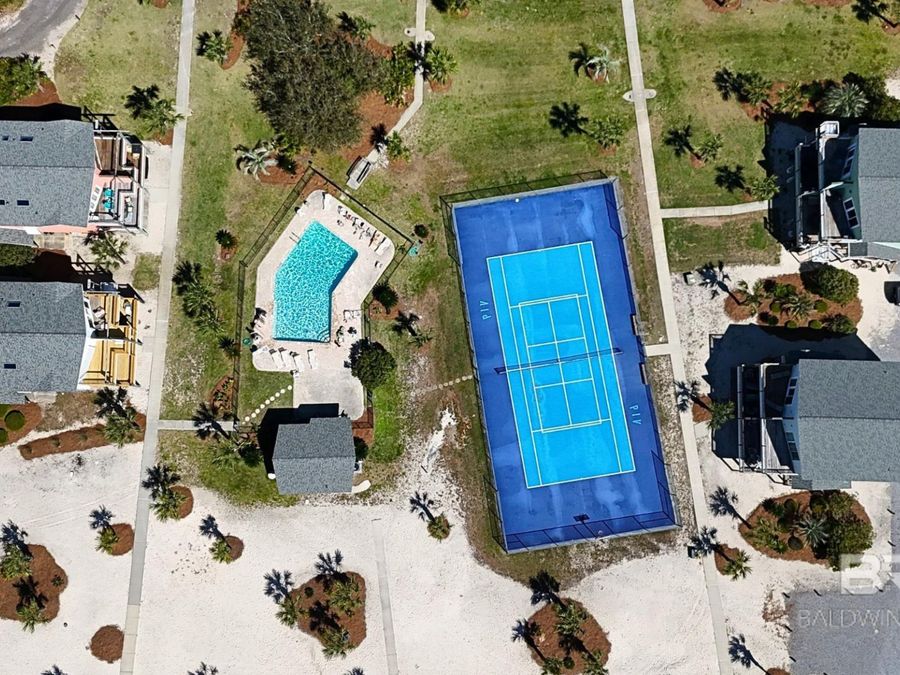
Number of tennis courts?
1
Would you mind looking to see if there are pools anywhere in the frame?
Yes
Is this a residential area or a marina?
residential area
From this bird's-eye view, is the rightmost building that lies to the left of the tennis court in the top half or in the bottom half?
bottom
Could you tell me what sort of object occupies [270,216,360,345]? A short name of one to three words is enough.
swimming pool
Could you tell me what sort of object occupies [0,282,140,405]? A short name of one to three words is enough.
house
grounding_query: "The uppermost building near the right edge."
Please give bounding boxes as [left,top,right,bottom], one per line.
[791,120,900,268]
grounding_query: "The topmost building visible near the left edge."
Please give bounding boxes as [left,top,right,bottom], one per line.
[0,122,150,252]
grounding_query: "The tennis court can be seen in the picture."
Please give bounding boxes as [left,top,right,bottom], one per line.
[453,181,679,553]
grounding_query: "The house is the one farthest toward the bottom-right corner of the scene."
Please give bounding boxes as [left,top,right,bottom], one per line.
[735,359,900,493]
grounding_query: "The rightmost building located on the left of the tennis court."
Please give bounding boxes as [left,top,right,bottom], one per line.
[272,417,358,494]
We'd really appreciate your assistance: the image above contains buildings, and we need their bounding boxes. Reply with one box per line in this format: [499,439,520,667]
[735,359,900,493]
[272,417,358,494]
[791,120,900,268]
[0,122,150,252]
[0,282,140,405]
